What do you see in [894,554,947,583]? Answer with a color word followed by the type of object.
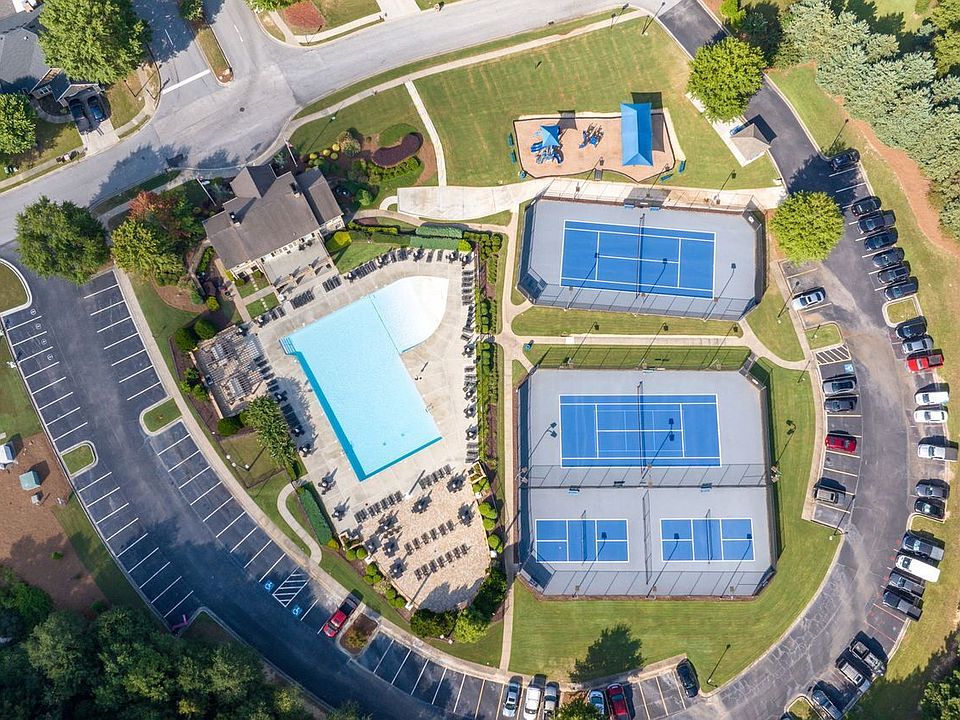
white van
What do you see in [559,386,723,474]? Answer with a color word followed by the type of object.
blue tennis court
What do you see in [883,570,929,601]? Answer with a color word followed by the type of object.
gray truck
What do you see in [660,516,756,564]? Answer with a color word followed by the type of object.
blue sports court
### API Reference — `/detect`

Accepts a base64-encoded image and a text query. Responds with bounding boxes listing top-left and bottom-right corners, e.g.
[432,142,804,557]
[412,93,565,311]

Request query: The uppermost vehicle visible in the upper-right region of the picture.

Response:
[829,151,860,170]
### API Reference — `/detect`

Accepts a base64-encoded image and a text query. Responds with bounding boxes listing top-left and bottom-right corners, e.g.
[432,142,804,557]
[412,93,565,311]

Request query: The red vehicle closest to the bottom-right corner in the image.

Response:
[823,436,857,451]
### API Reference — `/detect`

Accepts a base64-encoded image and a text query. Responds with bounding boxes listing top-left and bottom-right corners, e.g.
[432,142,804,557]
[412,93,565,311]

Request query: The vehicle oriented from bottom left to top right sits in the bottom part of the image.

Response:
[322,597,358,640]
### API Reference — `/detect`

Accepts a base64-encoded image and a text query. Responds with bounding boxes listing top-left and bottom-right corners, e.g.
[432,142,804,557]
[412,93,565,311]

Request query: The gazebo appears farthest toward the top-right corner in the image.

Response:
[728,124,771,169]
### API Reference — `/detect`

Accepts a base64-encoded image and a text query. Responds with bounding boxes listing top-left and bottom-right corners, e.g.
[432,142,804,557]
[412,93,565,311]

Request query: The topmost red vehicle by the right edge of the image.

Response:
[904,353,947,369]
